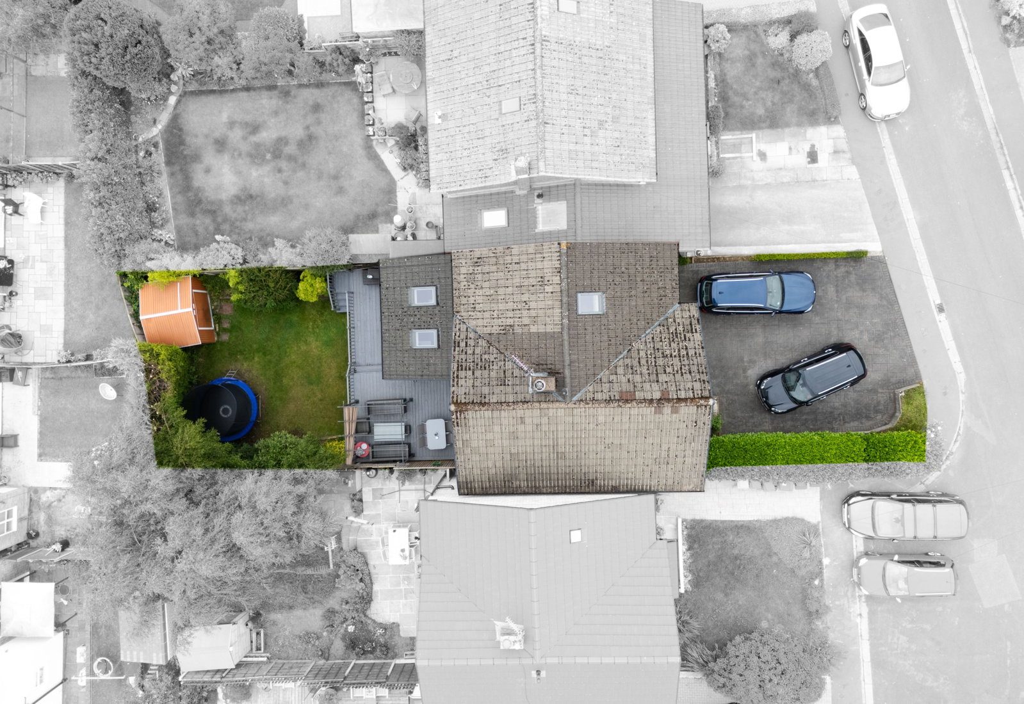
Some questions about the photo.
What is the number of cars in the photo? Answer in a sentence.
I count 5 cars.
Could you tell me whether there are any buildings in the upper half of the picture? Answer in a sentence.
Yes, in the upper half of the picture there is a building.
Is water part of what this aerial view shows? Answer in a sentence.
No, there is no water in the image.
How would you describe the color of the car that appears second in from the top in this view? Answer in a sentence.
From above, the car that appears second in from the top appears blue.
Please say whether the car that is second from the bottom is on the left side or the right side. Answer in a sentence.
You can find the car that is second from the bottom on the right side of the picture.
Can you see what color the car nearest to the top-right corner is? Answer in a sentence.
From above, the car nearest to the top-right corner appears white.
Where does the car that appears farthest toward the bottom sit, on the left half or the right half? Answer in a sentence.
The car that appears farthest toward the bottom is on the right side of the image.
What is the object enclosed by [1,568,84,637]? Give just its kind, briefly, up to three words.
gazebo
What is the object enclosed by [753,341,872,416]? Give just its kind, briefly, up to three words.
car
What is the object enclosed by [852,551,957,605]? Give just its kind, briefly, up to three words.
car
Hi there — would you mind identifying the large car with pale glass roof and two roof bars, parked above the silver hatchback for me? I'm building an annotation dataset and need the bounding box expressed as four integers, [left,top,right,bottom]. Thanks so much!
[840,489,969,546]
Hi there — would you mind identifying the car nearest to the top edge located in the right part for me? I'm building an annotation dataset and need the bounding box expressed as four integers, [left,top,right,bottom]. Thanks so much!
[841,2,913,123]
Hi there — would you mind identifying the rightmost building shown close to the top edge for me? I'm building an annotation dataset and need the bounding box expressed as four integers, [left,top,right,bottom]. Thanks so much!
[420,0,712,257]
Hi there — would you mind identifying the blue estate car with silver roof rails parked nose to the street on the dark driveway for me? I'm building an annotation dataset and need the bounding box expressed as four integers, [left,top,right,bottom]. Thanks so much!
[697,265,815,320]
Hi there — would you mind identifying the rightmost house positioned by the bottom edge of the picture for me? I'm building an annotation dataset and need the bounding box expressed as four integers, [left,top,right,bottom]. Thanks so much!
[414,481,682,704]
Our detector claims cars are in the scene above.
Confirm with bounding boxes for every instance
[840,489,969,546]
[753,341,872,416]
[852,551,957,605]
[841,2,913,123]
[697,265,815,320]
